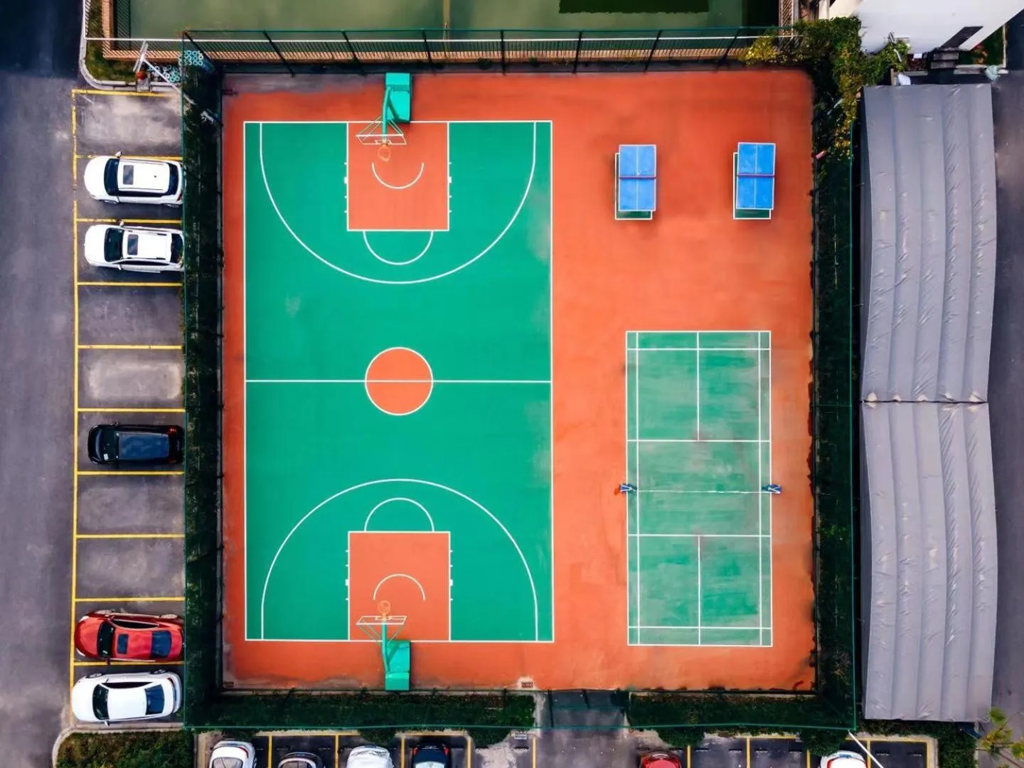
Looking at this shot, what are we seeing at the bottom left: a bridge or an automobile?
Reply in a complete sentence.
There is an automobile at the bottom left.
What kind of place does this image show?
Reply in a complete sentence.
This looks like a sports ground.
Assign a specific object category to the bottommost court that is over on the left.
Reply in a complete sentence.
The bottommost court that is over on the left is a basketball court.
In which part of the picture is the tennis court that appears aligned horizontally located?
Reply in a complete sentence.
Look in the top portion of the view to spot the tennis court that appears aligned horizontally.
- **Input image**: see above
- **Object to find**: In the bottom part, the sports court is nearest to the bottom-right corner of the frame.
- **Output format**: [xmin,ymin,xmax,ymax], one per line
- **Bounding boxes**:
[626,331,772,647]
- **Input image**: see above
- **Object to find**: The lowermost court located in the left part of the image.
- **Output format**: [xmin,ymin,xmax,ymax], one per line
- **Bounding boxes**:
[244,120,554,642]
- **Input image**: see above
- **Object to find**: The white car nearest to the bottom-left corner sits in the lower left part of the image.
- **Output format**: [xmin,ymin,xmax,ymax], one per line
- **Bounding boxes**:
[72,666,186,723]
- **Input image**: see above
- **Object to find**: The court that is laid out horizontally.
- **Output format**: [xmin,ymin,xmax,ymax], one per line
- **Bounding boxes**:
[114,0,779,50]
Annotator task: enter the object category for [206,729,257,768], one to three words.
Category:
car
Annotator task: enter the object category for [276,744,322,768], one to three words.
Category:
car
